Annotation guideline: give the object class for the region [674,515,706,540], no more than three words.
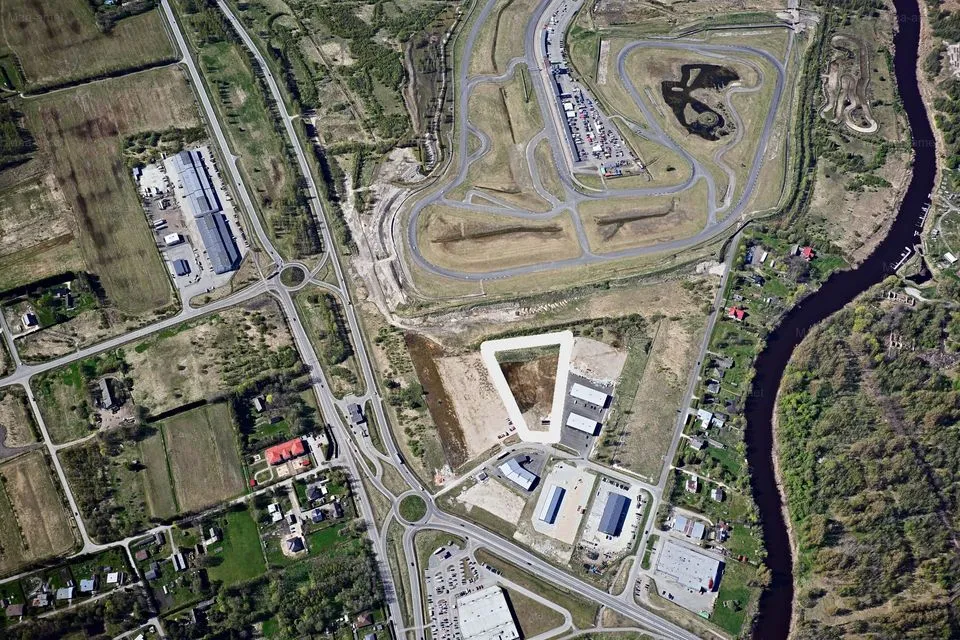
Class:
shed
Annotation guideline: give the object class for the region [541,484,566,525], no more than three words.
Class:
building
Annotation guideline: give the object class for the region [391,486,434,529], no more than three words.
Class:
roundabout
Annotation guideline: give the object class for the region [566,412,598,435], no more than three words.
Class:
building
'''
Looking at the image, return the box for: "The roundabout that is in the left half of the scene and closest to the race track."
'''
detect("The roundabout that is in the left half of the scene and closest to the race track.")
[274,260,311,293]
